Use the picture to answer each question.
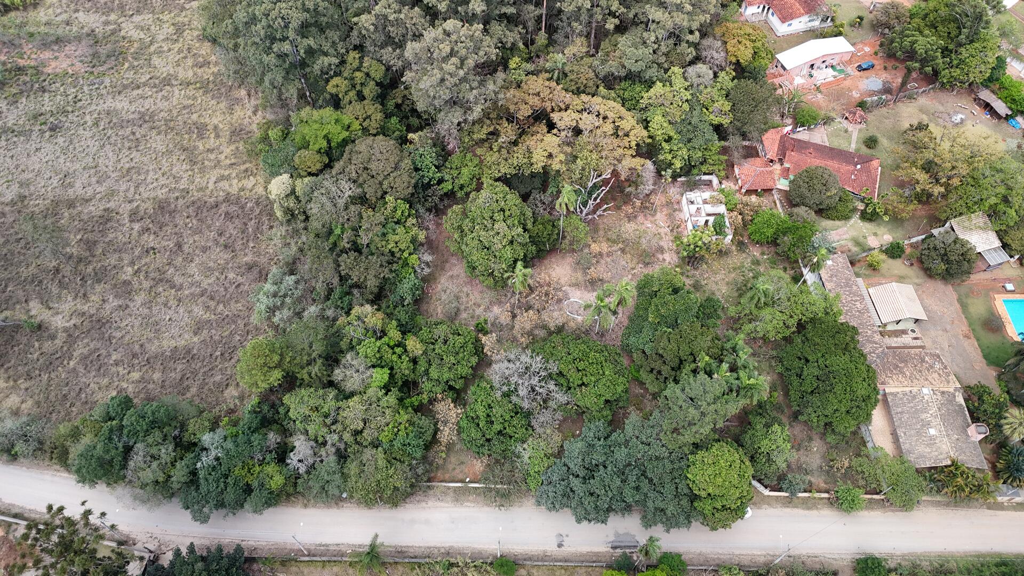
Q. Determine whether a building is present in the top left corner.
No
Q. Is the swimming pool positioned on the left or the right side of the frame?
right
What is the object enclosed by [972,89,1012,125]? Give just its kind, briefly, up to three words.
shed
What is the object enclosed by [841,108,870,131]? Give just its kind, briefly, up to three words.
gazebo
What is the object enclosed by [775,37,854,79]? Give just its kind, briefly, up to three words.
house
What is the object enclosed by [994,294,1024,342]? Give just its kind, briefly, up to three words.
swimming pool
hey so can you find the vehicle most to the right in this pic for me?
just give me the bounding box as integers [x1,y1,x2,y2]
[858,59,875,71]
